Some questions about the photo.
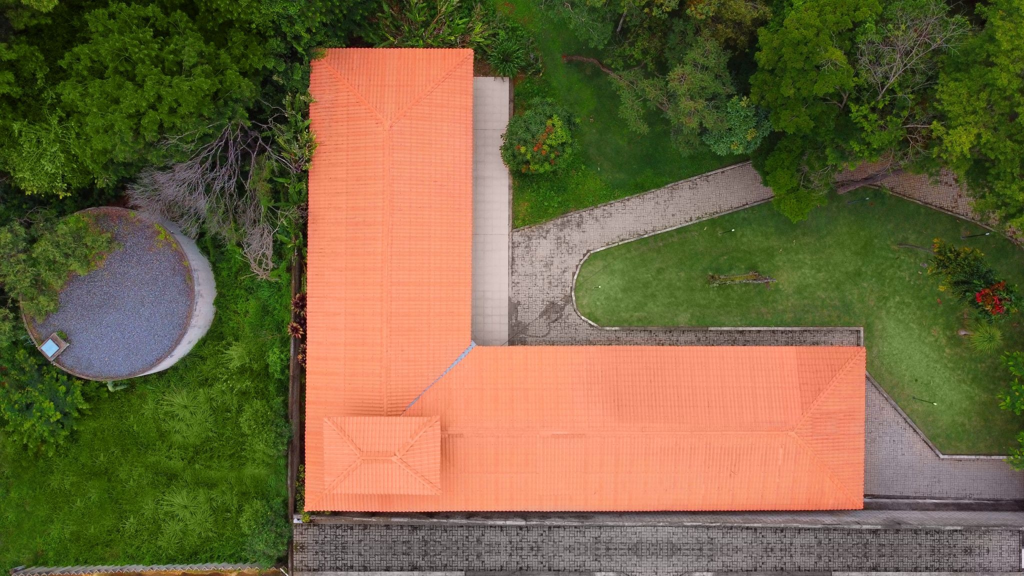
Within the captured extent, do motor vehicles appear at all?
No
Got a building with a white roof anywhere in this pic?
No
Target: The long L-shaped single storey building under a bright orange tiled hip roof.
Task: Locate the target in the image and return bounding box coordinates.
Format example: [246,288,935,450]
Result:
[304,47,867,512]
